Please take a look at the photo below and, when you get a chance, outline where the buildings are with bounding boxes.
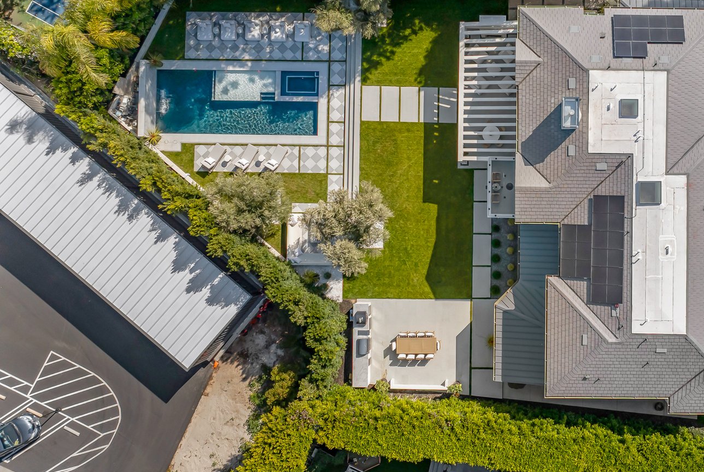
[0,56,277,372]
[489,0,704,416]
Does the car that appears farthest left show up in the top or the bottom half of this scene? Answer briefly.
bottom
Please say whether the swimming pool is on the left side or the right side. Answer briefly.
left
